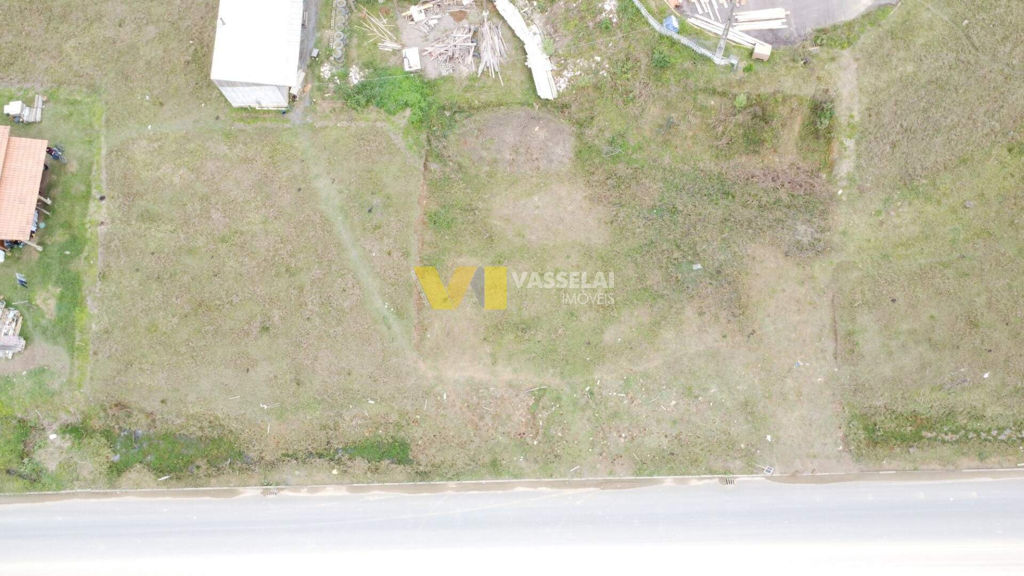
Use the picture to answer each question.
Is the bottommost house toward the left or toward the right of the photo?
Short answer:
left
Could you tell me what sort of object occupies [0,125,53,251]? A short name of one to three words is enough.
house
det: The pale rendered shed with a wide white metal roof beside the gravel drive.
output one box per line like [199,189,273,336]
[210,0,304,107]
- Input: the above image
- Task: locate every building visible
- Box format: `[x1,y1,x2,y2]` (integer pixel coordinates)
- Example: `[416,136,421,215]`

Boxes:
[210,0,304,107]
[0,125,53,251]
